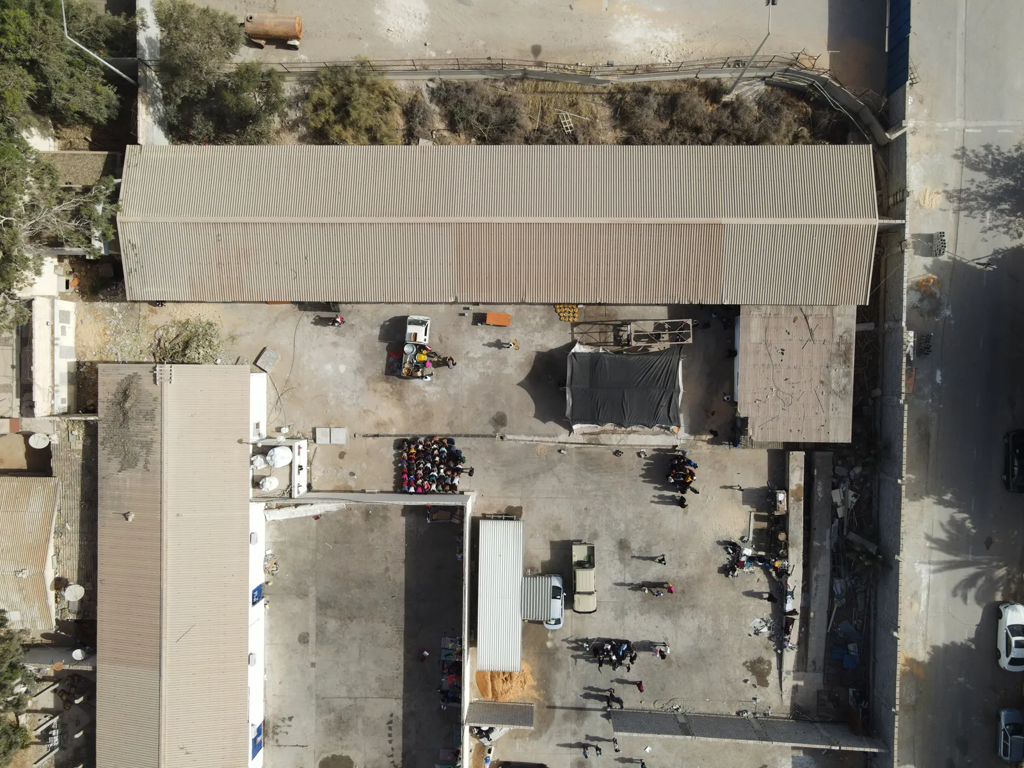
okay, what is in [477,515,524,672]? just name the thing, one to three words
building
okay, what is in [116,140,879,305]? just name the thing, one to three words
shed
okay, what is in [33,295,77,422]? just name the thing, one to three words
house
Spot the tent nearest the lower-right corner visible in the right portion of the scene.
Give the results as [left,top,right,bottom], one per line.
[557,343,689,436]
